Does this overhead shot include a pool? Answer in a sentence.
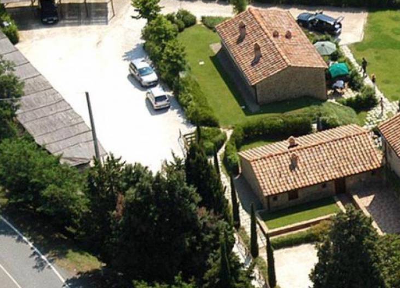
No, there appears to be no pool in this shot.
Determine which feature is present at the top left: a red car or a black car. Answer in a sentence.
Visible at the top left is a black car.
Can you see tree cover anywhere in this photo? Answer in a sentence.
Yes, there is tree cover in the image.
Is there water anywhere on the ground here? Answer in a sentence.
No, there's no water in this view.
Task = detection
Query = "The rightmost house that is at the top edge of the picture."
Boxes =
[213,7,330,103]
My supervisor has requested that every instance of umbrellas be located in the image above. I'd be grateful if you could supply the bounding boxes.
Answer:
[328,68,347,81]
[315,44,335,59]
